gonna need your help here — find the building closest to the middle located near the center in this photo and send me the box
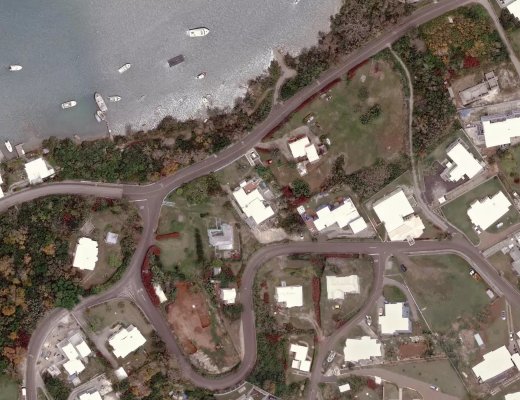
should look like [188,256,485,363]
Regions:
[231,181,275,225]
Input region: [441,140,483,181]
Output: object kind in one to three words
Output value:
house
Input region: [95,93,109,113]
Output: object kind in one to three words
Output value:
boat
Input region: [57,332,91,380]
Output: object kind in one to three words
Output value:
house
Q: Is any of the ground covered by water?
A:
Yes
